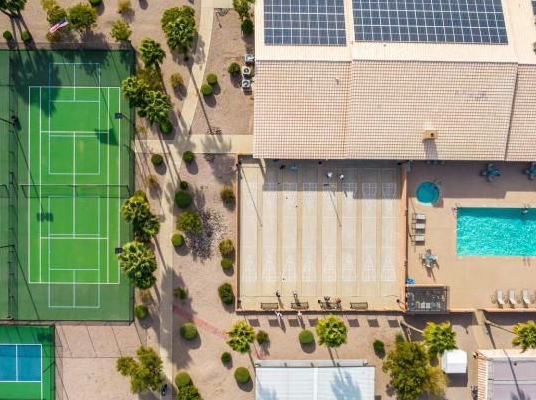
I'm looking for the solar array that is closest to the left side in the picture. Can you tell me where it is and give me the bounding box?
[263,0,345,44]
